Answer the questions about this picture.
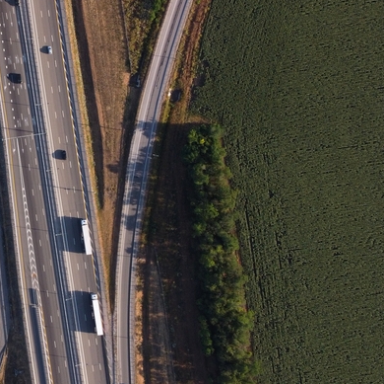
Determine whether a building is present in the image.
No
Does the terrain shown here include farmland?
Yes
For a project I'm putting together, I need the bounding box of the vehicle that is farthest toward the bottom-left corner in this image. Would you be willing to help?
[91,293,104,335]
